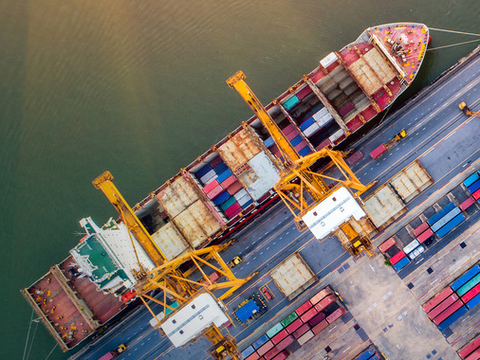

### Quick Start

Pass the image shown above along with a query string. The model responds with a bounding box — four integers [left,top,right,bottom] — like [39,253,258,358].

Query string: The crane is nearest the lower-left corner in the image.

[93,175,262,360]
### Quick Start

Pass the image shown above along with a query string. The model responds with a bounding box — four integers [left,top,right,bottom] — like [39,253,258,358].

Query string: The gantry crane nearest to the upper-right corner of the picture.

[228,74,380,263]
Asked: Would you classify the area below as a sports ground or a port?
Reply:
port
